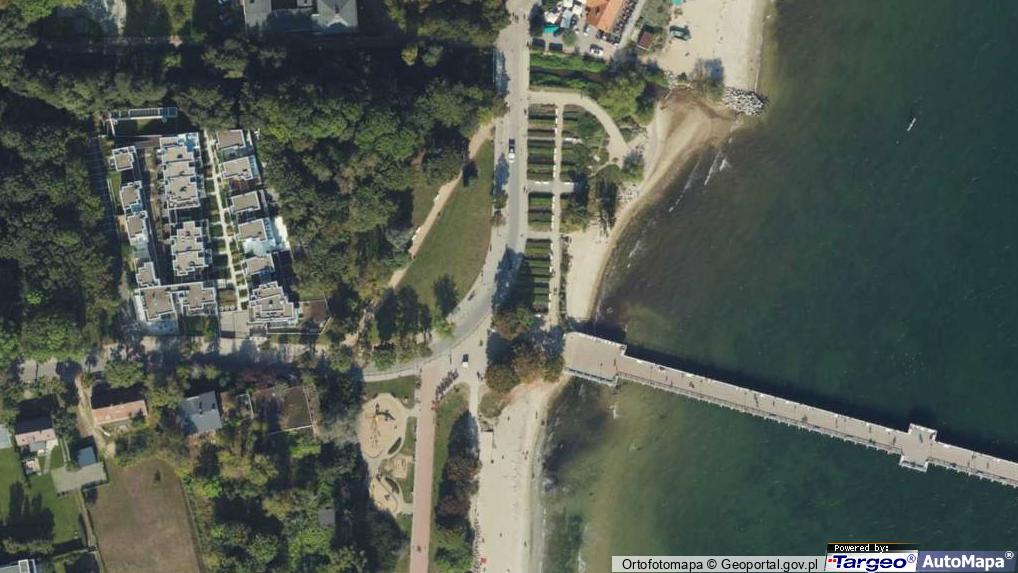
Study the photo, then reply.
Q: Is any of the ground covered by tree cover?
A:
Yes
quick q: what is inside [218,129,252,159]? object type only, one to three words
house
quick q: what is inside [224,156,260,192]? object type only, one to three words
house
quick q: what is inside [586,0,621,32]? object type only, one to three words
building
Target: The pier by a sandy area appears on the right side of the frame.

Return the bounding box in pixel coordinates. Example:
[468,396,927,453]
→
[565,332,1018,488]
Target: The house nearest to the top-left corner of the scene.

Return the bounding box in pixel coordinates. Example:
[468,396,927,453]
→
[107,146,138,173]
